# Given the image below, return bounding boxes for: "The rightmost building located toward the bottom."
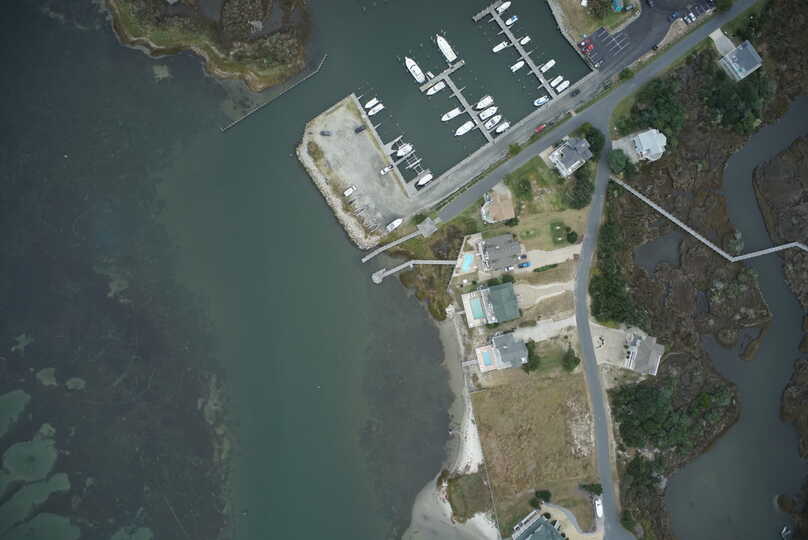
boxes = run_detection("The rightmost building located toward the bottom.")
[620,335,663,379]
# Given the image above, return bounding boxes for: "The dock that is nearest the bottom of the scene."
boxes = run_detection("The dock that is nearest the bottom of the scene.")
[372,259,457,284]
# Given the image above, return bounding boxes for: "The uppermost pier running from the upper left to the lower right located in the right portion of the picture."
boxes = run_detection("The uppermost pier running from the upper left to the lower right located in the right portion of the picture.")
[471,0,559,98]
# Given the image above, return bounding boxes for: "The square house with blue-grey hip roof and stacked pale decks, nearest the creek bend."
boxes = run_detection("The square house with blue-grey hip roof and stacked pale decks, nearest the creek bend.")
[711,39,763,84]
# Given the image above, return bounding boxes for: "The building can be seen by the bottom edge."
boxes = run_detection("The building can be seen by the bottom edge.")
[511,509,566,540]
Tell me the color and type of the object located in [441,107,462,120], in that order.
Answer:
white boat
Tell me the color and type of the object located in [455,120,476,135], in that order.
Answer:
white boat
